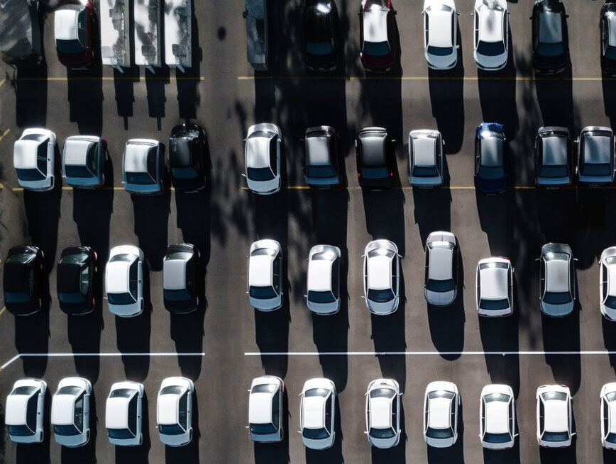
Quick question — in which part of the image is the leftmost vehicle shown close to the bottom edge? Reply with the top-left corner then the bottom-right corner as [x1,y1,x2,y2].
[2,379,48,444]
